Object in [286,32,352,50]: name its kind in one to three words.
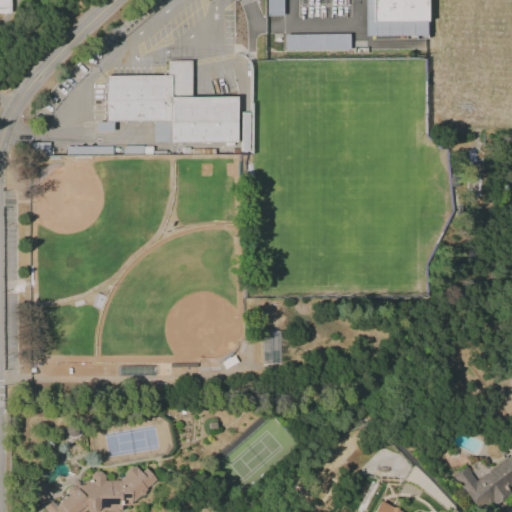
shed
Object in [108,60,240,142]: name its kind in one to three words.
building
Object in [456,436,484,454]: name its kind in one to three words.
swimming pool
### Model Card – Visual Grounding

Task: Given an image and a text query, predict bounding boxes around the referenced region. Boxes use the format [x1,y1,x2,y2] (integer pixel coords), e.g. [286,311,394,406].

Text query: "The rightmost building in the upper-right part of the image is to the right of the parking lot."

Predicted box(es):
[368,0,432,36]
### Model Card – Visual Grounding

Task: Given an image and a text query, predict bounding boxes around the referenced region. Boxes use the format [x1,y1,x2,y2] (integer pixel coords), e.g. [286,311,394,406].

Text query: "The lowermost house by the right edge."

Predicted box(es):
[448,459,512,510]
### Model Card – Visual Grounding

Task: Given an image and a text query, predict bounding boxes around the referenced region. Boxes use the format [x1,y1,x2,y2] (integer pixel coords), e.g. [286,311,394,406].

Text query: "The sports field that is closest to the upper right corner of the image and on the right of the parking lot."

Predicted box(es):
[246,60,454,297]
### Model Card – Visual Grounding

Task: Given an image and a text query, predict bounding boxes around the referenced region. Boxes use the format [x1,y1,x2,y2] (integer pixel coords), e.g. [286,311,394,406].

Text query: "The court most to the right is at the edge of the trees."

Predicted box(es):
[222,418,296,484]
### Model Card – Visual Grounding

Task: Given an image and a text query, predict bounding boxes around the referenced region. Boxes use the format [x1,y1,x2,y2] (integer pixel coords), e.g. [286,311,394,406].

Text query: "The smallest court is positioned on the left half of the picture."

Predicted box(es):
[106,426,158,455]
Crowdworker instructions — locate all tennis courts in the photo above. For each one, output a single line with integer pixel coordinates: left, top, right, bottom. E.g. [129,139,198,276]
[106,426,158,455]
[222,418,296,484]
